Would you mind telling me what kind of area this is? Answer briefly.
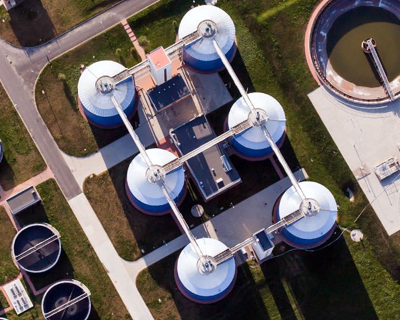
industrial area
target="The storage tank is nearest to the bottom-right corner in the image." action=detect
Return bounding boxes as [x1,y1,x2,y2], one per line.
[273,178,338,246]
